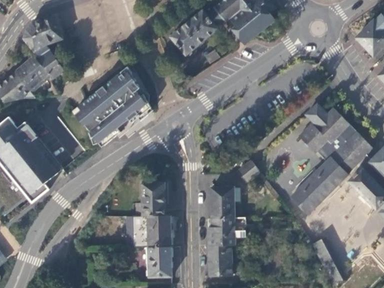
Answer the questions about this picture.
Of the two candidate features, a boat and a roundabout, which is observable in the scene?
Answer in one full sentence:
The image shows a roundabout.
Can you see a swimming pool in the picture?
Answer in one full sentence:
No, the frame has no swimming pool in it.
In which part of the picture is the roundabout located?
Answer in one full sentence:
The roundabout sits in the top right section of the image.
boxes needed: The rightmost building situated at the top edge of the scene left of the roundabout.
[216,0,274,44]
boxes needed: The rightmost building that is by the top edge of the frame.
[354,13,384,57]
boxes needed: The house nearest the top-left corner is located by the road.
[24,18,64,62]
